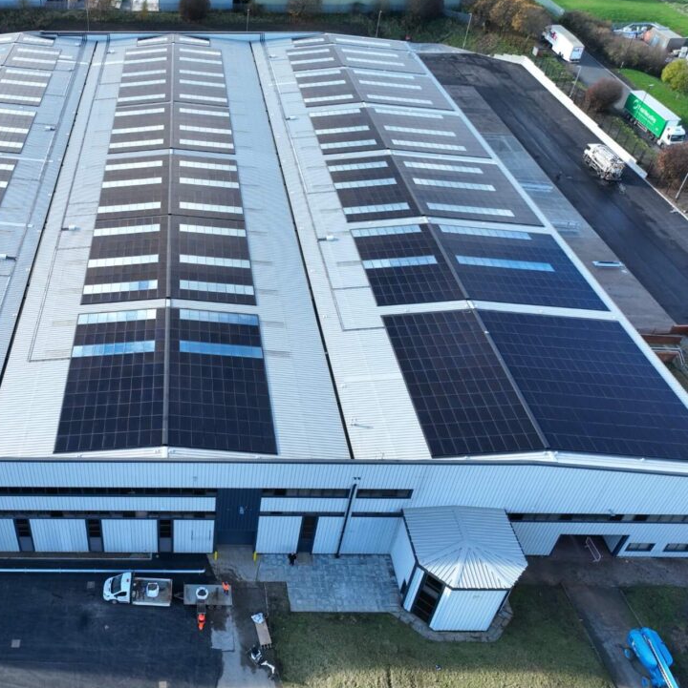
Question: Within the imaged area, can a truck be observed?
Yes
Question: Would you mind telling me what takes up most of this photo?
buildings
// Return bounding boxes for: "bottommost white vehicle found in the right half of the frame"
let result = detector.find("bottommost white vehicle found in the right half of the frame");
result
[584,143,623,177]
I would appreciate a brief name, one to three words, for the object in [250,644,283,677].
work vehicle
